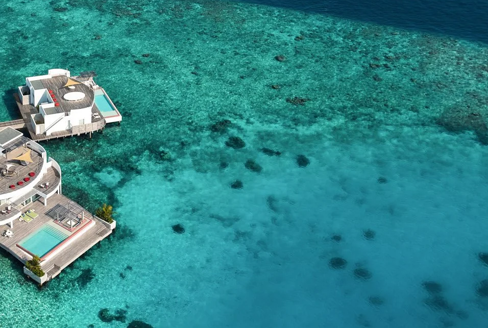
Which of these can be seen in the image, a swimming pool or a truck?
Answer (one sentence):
It is a swimming pool that can be seen here.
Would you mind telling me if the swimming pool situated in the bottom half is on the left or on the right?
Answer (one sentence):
The swimming pool situated in the bottom half sits on the left side.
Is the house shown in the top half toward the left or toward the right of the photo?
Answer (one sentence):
It is on the left.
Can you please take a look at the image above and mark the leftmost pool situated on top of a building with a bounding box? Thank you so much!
[15,207,96,265]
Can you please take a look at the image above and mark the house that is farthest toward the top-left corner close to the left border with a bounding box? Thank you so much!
[11,66,106,150]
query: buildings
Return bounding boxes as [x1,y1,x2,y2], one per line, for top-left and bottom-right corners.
[11,66,106,150]
[0,127,117,298]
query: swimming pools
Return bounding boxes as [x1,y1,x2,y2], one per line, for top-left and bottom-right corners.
[92,86,123,124]
[15,207,96,265]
